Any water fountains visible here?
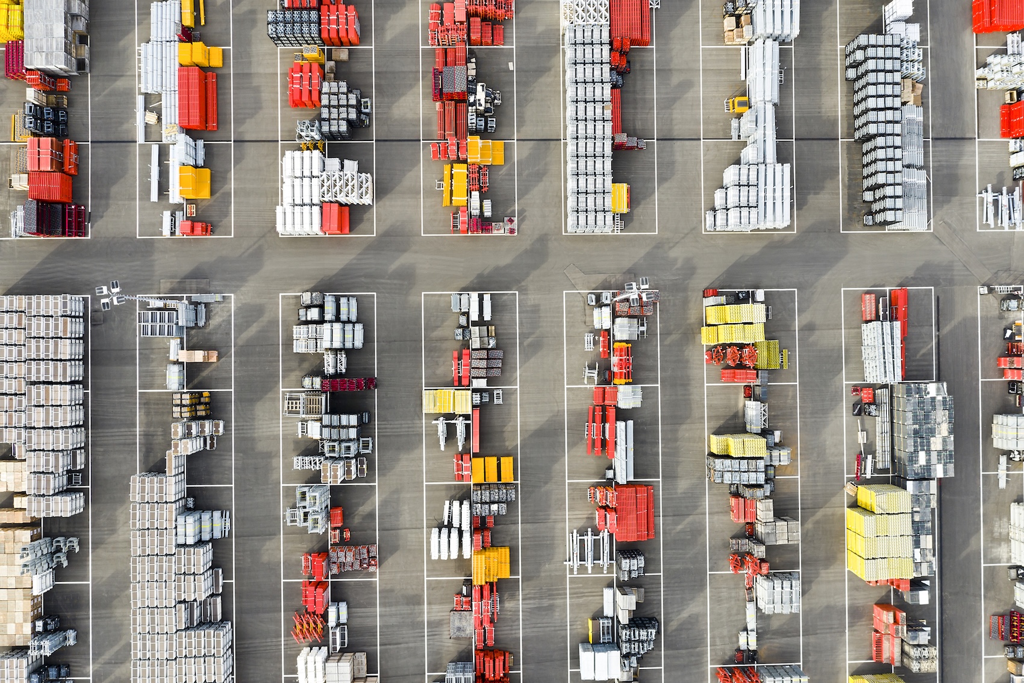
No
